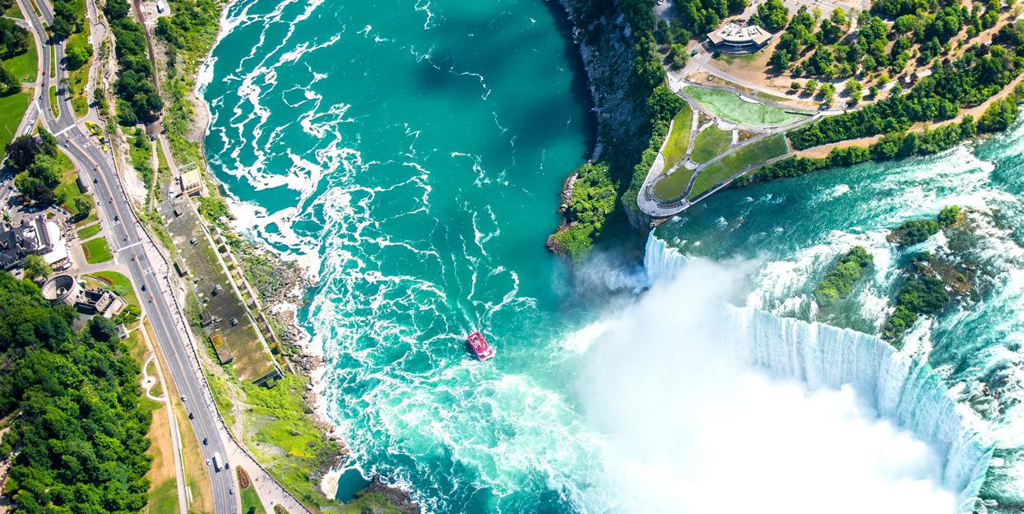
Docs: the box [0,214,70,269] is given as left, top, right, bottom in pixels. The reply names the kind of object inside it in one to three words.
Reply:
building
